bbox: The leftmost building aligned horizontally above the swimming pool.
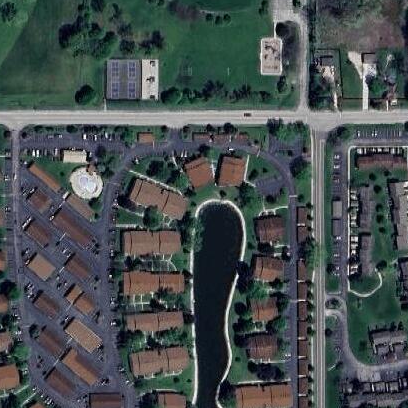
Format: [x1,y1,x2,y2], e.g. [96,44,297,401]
[61,149,87,162]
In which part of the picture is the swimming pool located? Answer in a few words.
left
